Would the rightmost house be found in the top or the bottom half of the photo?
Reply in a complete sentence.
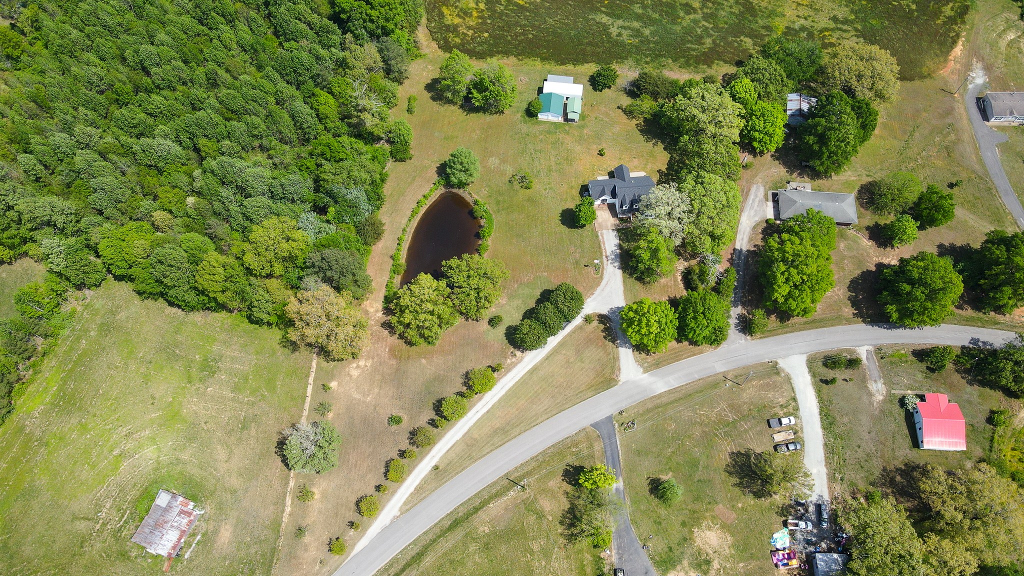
You can find the rightmost house in the top half.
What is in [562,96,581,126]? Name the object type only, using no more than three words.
shed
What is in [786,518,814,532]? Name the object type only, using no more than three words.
vehicle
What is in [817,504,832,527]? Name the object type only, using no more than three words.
car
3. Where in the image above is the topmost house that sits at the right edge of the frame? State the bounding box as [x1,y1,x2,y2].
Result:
[981,87,1024,123]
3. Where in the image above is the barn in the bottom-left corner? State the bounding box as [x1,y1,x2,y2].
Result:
[130,493,202,559]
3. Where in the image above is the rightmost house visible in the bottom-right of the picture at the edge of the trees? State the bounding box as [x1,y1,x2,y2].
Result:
[913,393,971,450]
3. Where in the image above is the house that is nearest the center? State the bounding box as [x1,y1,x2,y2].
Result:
[587,162,659,229]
